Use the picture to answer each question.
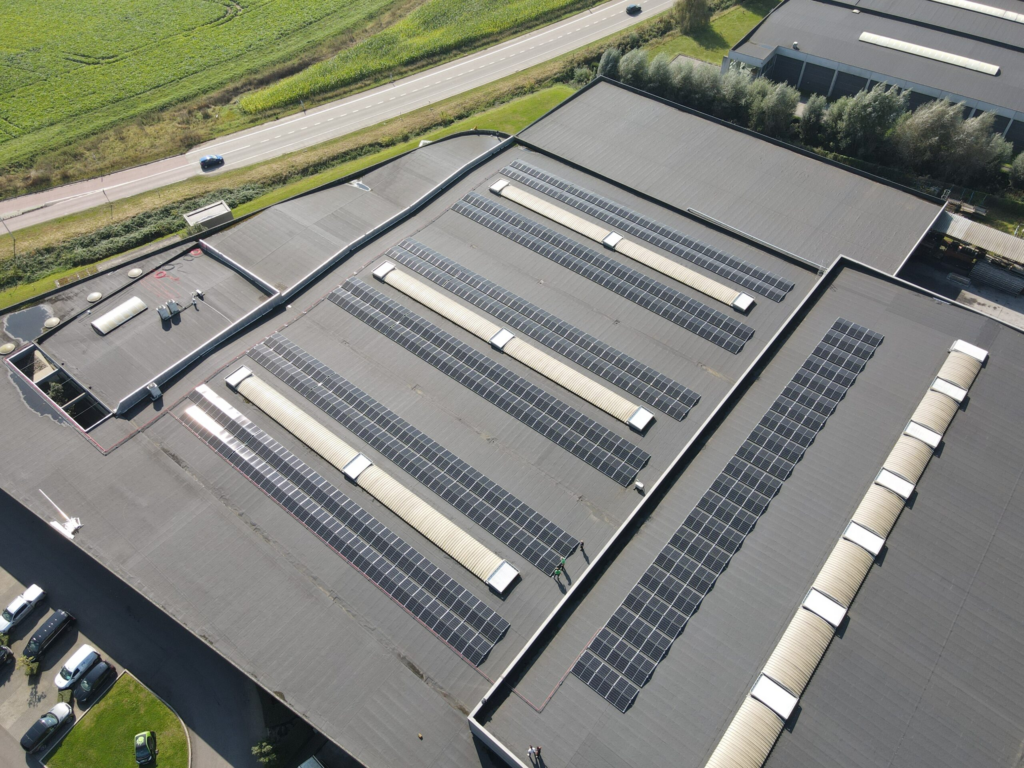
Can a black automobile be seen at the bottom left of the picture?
Yes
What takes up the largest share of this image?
buildings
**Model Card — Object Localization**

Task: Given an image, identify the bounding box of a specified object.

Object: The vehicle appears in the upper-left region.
[197,155,223,169]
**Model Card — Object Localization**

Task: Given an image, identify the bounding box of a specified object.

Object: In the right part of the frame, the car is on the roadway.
[625,3,643,15]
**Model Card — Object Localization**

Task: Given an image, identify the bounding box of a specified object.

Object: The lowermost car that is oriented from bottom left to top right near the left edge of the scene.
[17,706,75,758]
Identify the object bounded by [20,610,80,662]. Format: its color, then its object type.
black car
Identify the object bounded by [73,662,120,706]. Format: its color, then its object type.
black car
